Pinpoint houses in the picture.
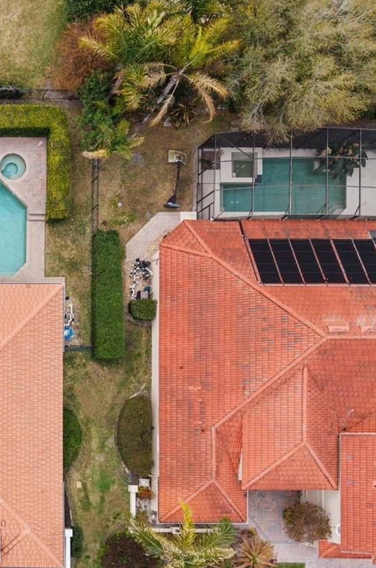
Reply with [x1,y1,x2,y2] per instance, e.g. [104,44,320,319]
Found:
[0,280,66,568]
[153,218,376,567]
